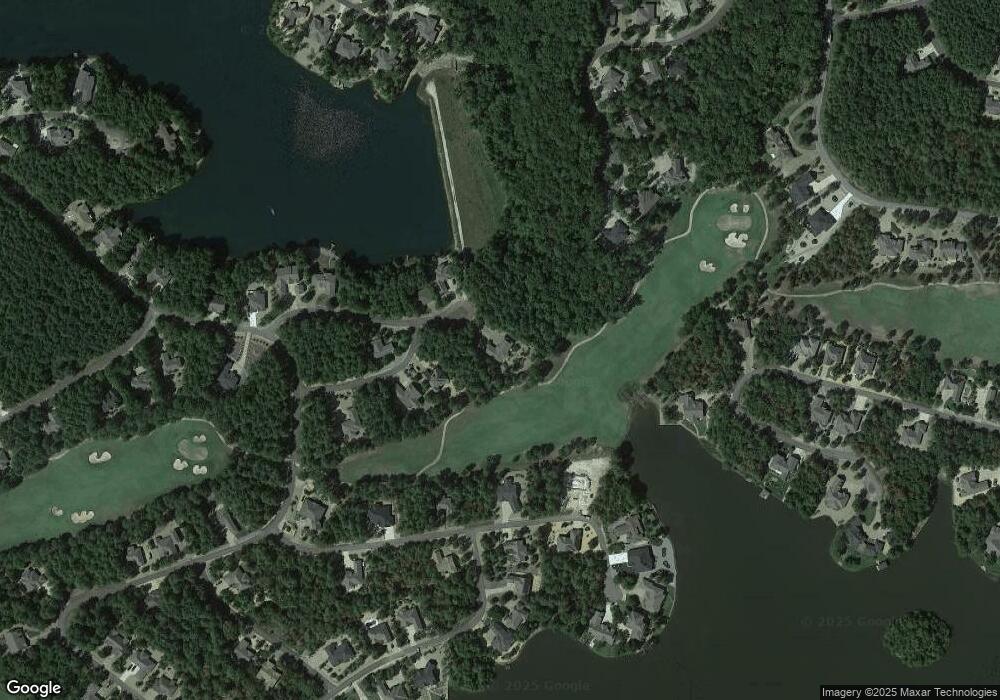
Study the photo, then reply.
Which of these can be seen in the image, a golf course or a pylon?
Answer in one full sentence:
There is a golf course in the scene.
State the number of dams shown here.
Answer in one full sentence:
The photo contains exactly 1 dam.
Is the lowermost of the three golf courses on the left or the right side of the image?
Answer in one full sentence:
You can find the lowermost of the three golf courses on the left side of the picture.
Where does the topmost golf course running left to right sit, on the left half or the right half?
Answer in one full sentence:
The topmost golf course running left to right is on the right side of the image.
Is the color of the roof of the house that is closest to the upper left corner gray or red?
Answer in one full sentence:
In this view, the roof of the house that is closest to the upper left corner is gray.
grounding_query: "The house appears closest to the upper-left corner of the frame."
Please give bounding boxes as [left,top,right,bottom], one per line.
[9,75,29,99]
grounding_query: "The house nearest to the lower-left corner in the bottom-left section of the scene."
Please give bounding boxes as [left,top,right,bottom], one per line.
[4,631,27,653]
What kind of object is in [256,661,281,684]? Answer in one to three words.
house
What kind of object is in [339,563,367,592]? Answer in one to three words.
house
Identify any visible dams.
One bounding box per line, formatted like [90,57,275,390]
[416,64,504,250]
